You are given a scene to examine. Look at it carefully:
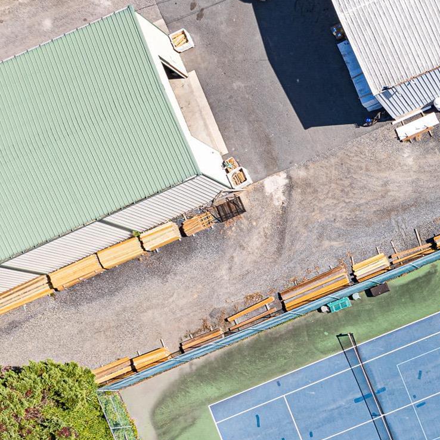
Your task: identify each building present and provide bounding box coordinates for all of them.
[0,1,233,290]
[329,0,440,119]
